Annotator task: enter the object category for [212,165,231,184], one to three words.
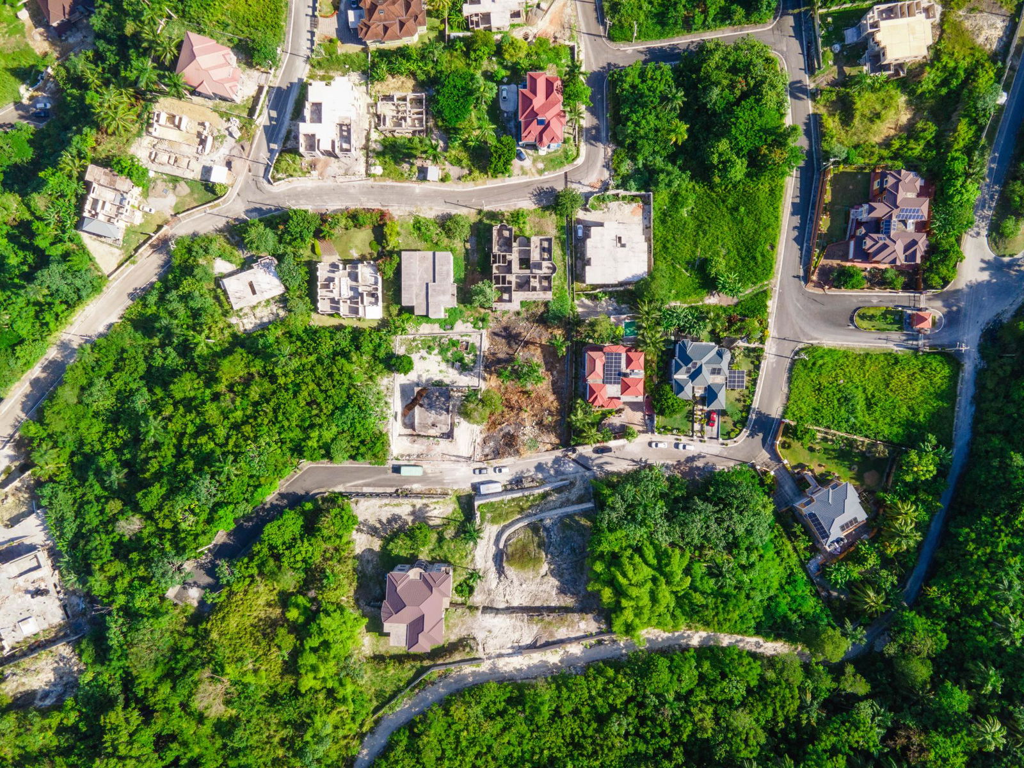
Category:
shed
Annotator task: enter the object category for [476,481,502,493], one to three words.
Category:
vehicle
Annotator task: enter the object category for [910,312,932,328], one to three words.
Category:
building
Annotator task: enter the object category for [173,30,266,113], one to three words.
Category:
house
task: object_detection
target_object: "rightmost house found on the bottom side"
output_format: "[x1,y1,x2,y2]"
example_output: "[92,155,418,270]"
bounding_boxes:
[785,477,872,547]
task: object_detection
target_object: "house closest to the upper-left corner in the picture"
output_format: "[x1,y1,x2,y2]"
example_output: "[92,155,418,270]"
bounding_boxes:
[1,0,85,43]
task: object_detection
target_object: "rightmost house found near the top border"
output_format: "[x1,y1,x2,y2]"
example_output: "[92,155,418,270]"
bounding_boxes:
[854,1,937,86]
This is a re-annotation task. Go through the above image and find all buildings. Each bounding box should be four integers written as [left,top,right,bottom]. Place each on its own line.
[1,0,85,43]
[212,165,231,184]
[910,312,932,328]
[672,342,731,410]
[401,251,457,318]
[359,0,427,60]
[428,166,439,181]
[577,344,645,409]
[854,1,937,86]
[785,477,872,547]
[833,168,929,272]
[298,75,364,162]
[0,548,74,645]
[399,383,455,440]
[585,220,647,285]
[463,0,526,38]
[173,30,266,113]
[519,72,566,158]
[382,561,452,652]
[81,163,157,249]
[221,251,291,317]
[318,258,384,320]
[491,222,558,312]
